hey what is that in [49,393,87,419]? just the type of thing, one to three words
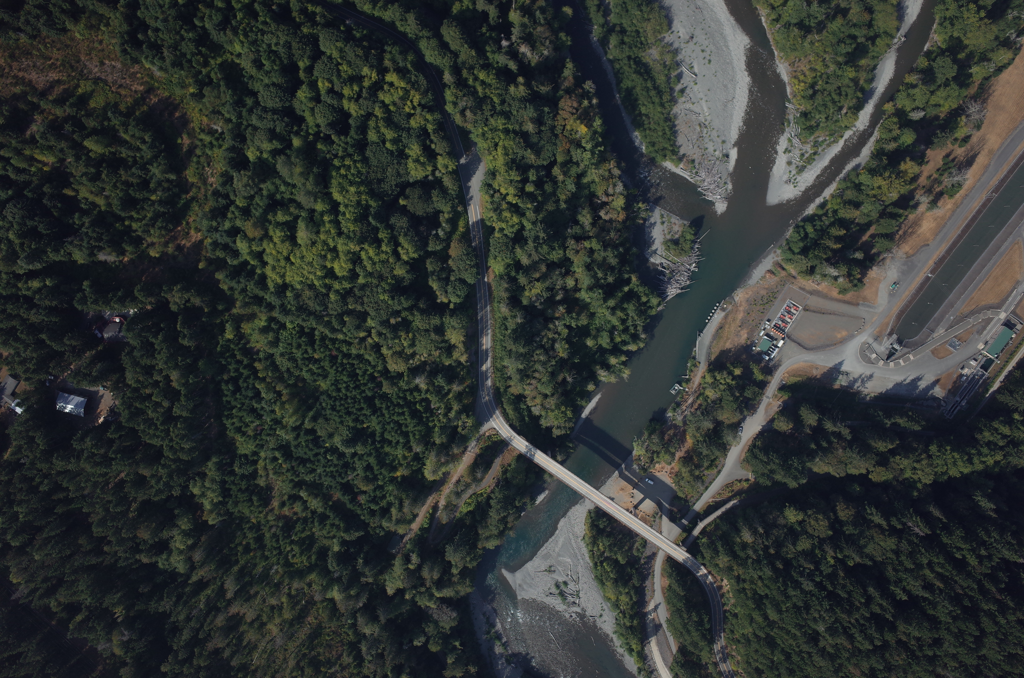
barn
